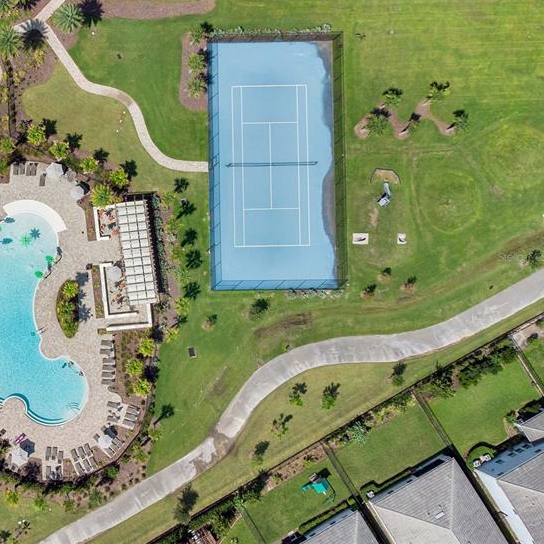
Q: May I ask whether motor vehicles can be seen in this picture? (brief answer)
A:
No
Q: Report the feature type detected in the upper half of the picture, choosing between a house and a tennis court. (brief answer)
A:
tennis court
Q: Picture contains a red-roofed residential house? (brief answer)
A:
No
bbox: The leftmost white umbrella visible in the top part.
[44,163,63,182]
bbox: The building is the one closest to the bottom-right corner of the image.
[477,442,544,544]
